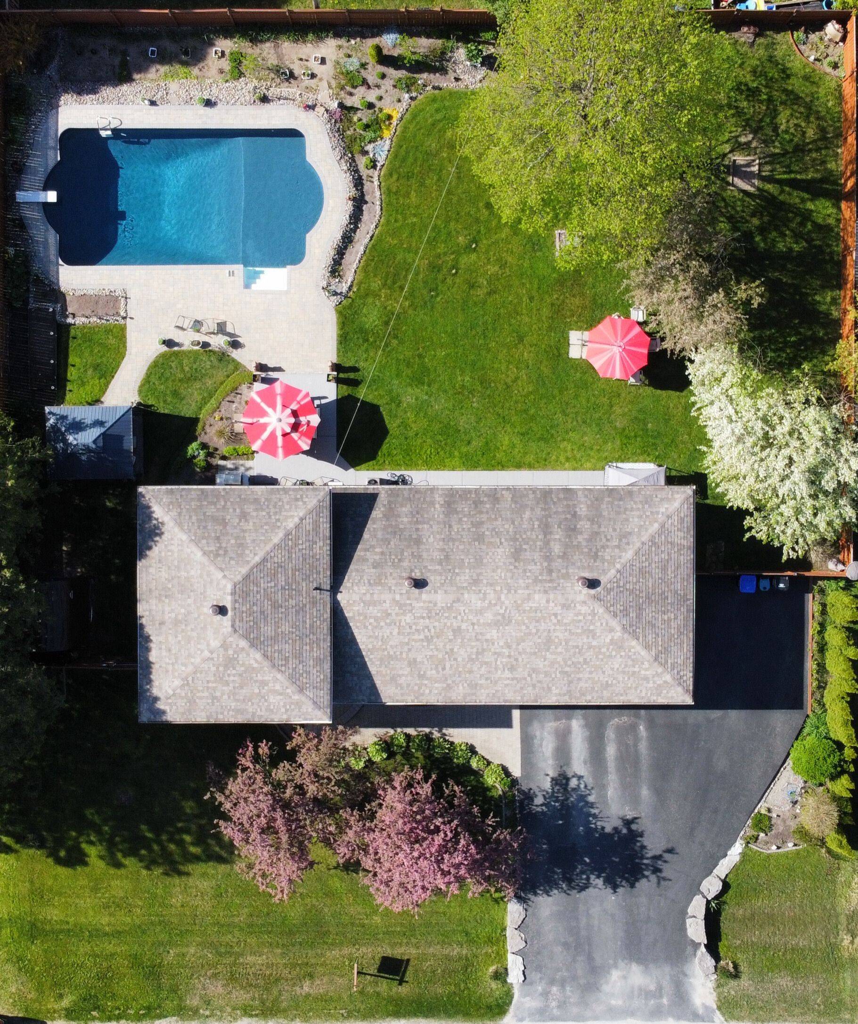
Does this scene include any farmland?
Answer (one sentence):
No, the picture contains no farmland.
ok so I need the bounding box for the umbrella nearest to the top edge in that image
[585,315,648,378]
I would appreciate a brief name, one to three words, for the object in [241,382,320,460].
umbrella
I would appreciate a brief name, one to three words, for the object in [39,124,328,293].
swimming pool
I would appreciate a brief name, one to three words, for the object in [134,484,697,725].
house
